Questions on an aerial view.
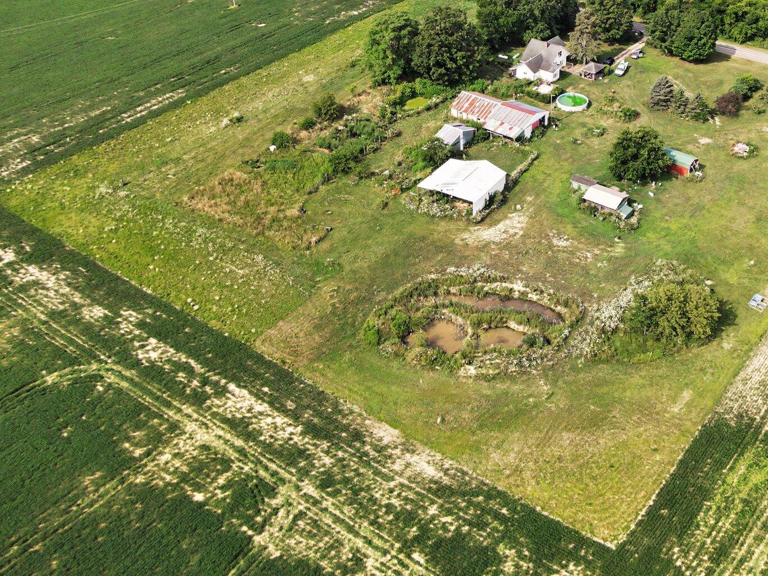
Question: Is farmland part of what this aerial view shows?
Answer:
Yes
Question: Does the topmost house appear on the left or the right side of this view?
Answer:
right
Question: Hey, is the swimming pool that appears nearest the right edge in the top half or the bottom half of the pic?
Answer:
top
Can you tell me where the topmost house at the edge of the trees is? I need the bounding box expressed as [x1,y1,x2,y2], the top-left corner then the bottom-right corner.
[510,35,571,82]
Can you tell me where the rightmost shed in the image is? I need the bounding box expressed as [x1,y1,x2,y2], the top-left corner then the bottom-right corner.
[664,149,700,176]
